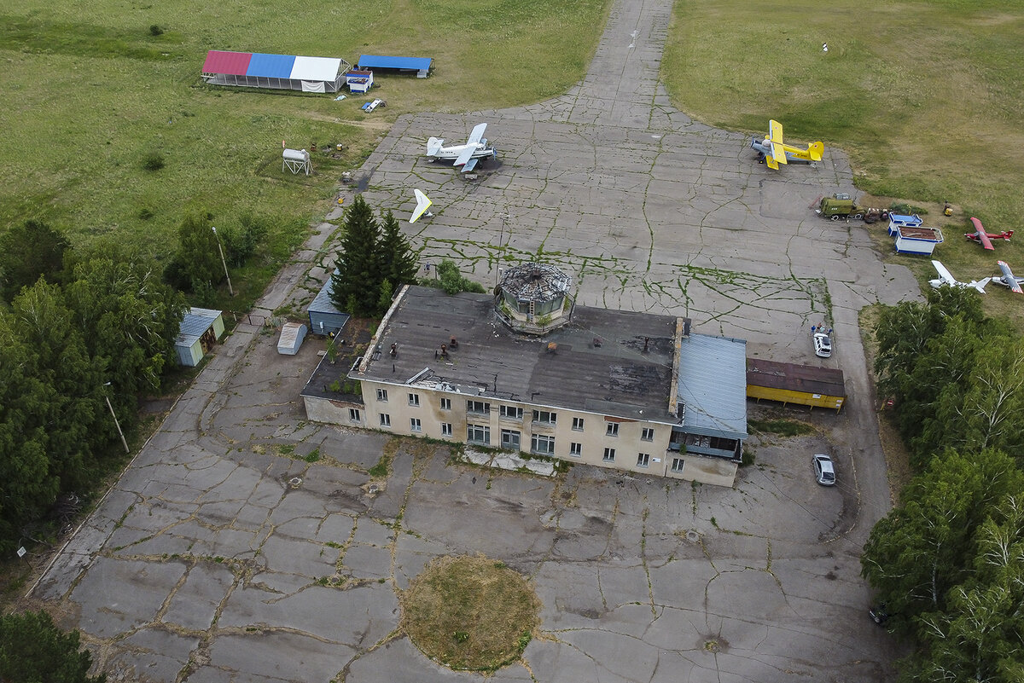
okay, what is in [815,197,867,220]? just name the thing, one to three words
truck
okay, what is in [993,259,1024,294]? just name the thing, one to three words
airplane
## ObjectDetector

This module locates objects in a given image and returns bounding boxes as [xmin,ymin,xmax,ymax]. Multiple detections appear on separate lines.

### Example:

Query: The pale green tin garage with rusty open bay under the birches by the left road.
[173,315,224,367]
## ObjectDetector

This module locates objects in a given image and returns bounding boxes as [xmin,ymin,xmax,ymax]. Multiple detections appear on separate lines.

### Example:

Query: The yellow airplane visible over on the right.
[755,124,830,172]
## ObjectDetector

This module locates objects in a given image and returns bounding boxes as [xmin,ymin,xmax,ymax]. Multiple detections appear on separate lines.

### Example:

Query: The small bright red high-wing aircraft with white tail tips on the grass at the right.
[965,217,1022,248]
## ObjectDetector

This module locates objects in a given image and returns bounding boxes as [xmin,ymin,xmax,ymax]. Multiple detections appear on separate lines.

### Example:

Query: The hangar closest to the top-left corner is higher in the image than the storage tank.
[204,50,351,91]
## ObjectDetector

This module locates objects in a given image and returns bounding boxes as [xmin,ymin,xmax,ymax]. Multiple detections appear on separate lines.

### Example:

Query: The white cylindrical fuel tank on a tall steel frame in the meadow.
[278,148,315,177]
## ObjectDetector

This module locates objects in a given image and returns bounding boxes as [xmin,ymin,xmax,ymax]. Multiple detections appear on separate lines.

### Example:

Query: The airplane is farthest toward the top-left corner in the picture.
[420,125,492,173]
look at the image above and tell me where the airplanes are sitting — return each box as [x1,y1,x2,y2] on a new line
[420,125,492,173]
[926,256,995,301]
[755,124,830,172]
[993,259,1024,294]
[965,217,1022,248]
